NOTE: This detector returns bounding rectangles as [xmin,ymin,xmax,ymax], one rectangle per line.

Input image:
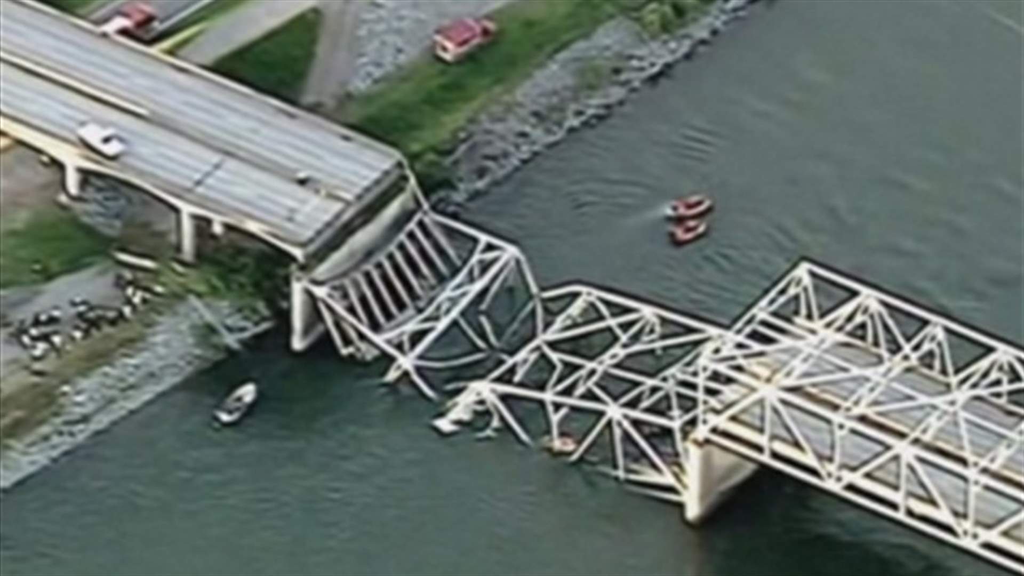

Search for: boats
[668,195,716,219]
[208,385,256,429]
[668,221,709,244]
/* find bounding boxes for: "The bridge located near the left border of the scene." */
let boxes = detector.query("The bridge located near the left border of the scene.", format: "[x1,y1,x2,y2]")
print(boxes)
[0,0,407,271]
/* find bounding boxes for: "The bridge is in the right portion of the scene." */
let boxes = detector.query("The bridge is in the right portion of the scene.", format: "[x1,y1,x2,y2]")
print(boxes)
[693,263,1024,566]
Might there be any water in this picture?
Yes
